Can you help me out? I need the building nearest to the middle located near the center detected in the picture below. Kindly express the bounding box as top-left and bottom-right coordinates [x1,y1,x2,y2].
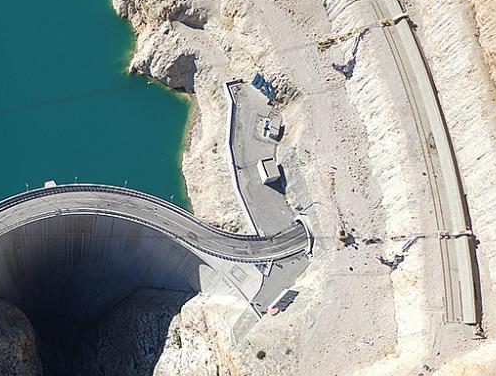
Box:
[258,155,282,183]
